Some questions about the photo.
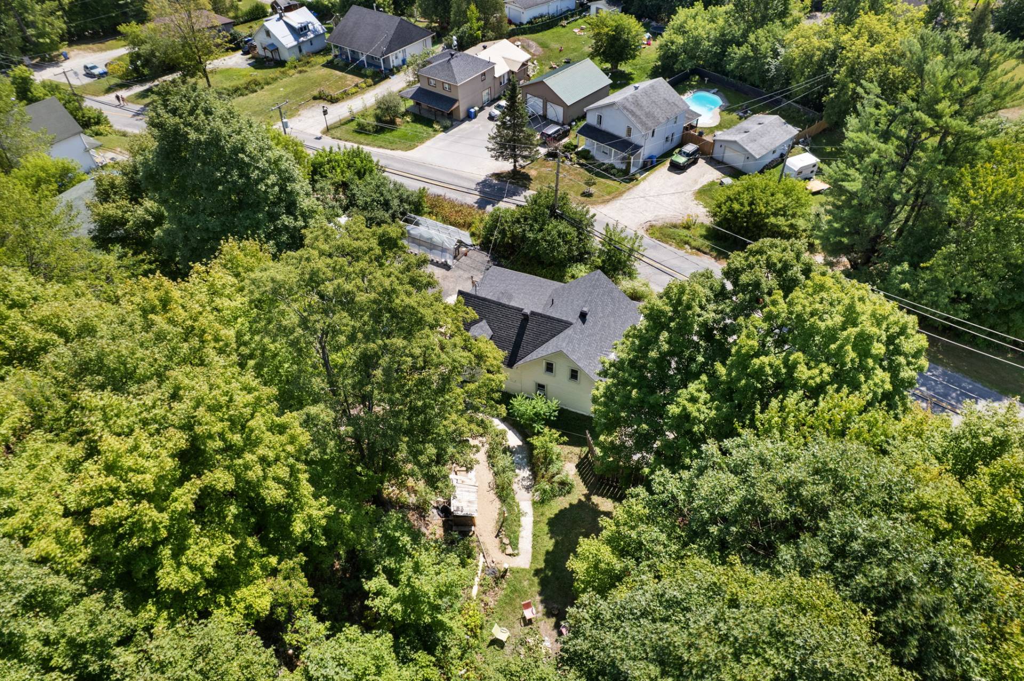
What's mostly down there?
trees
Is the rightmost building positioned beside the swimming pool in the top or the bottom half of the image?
top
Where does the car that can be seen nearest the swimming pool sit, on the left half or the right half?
right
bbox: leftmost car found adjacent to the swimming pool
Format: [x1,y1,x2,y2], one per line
[670,143,705,171]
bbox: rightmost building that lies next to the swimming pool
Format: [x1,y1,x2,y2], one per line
[712,115,796,172]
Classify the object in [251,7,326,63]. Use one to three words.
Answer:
house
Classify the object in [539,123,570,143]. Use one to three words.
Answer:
car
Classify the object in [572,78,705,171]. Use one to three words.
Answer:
house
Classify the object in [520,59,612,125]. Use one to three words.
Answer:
building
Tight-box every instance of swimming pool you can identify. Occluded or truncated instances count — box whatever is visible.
[682,88,725,127]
